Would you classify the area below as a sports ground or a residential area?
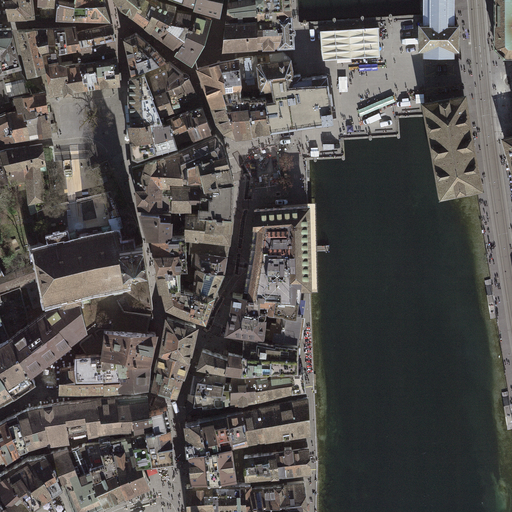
residential area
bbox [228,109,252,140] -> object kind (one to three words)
house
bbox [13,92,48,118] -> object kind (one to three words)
house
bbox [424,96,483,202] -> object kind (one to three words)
building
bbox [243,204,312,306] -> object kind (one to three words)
building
